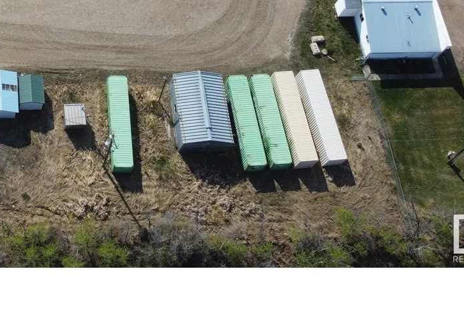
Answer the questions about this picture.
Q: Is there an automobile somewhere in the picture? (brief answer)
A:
No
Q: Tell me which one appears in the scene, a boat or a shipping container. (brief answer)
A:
shipping container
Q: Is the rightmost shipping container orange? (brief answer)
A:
No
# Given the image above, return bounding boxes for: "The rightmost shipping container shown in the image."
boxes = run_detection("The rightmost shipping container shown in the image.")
[297,69,347,166]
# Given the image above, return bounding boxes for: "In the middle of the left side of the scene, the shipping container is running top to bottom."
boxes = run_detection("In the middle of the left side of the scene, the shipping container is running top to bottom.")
[106,75,134,174]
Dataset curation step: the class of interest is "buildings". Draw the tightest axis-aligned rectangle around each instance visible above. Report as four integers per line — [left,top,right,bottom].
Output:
[0,68,19,118]
[326,0,451,64]
[20,72,44,110]
[63,102,86,131]
[168,69,237,154]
